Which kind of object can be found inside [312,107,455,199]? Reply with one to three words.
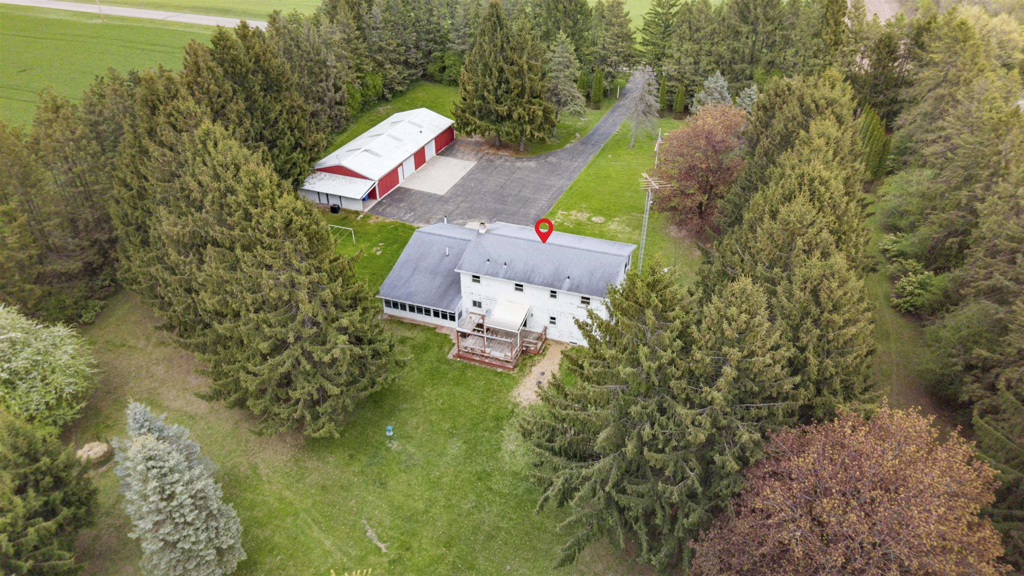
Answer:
barn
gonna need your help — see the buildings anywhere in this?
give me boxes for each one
[377,215,638,349]
[312,107,455,199]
